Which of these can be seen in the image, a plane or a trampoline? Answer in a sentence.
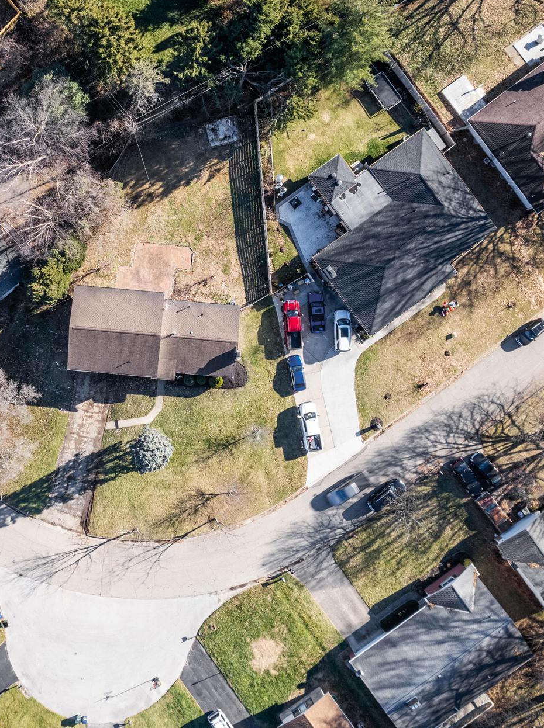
The image shows a trampoline.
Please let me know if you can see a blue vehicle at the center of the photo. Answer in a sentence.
Yes, a blue vehicle appears at the center of the photo.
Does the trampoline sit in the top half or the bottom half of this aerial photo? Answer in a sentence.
The trampoline is in the top half of the image.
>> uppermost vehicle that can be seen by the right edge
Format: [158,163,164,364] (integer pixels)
[510,316,544,349]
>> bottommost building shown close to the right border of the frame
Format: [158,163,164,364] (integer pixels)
[349,559,533,728]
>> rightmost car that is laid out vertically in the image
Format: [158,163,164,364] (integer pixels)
[332,308,353,352]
